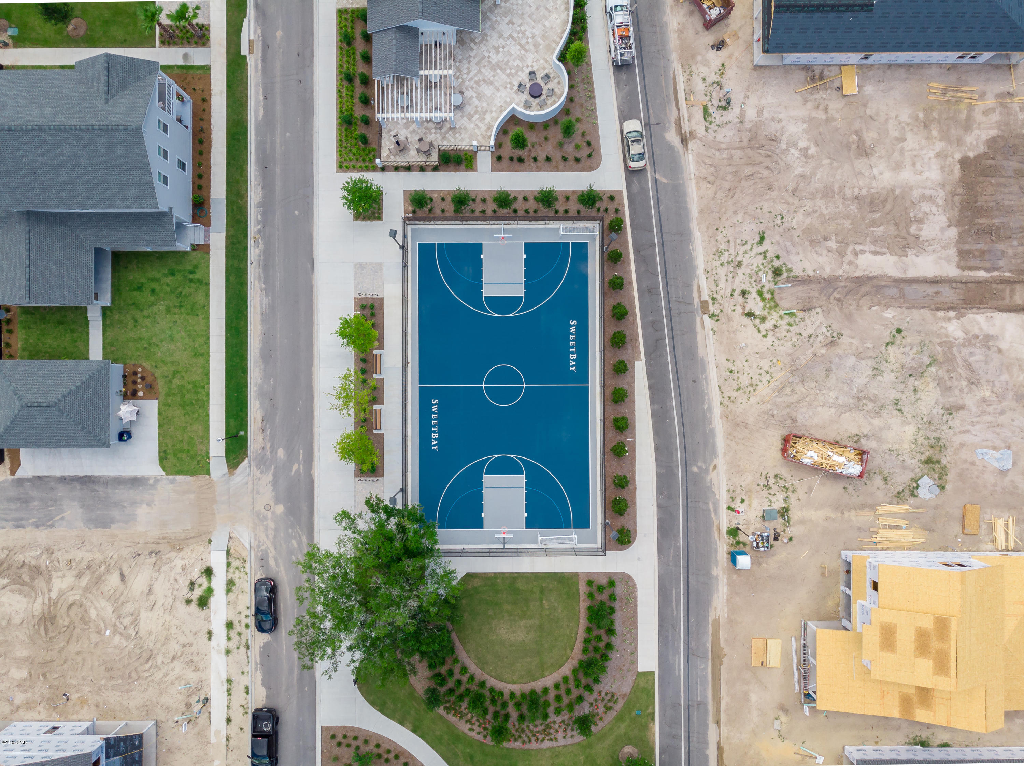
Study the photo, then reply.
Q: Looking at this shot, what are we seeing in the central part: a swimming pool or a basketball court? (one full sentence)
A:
What appears in the central part is a basketball court.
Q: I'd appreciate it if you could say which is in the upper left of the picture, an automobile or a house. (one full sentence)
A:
The feature located in the upper left of the picture is a house.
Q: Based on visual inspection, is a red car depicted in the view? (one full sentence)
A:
No, there is no red car in the image.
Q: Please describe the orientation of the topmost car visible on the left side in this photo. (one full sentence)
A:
In this picture, the topmost car visible on the left side is oriented vertically.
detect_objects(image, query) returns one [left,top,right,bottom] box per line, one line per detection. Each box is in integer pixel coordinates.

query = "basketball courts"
[408,224,601,549]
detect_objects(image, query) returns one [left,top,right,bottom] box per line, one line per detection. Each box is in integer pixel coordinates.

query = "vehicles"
[604,0,635,66]
[250,577,277,634]
[623,116,648,170]
[248,704,279,766]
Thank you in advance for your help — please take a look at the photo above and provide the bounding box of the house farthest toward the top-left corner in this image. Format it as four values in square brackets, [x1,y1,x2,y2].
[0,52,204,320]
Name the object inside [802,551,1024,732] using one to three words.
house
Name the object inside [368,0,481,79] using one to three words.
building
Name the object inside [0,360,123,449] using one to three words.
building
